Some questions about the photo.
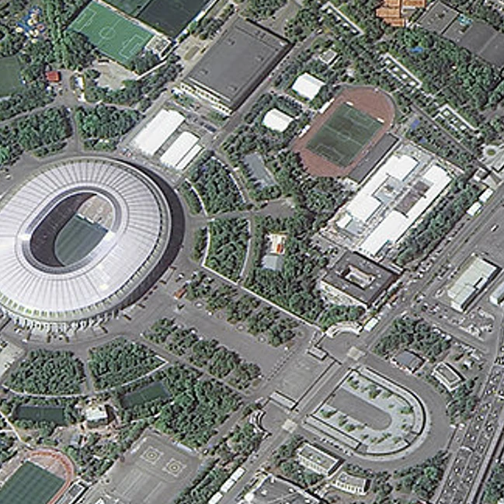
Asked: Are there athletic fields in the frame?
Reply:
Yes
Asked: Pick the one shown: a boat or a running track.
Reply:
running track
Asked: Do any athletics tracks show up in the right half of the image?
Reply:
Yes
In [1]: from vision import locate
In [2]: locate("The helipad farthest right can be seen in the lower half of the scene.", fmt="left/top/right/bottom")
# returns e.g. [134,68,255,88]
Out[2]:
[163,457,186,476]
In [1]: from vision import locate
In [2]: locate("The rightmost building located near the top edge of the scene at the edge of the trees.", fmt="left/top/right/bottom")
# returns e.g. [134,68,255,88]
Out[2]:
[459,19,504,72]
